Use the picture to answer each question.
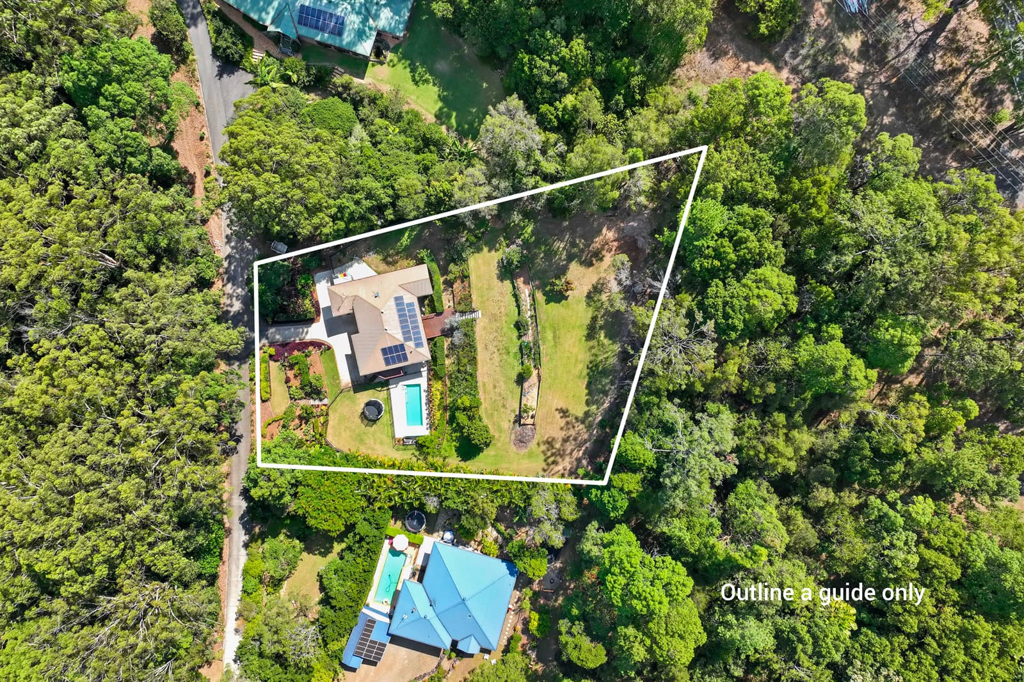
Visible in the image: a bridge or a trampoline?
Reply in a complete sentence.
I can see a trampoline in this picture.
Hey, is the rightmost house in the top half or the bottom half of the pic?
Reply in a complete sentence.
The rightmost house is in the bottom half of the image.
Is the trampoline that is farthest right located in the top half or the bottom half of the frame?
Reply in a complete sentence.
It is in the bottom half that the trampoline that is farthest right appears.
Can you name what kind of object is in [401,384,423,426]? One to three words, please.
swimming pool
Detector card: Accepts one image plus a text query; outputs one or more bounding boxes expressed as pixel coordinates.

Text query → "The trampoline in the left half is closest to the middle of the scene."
[361,401,383,421]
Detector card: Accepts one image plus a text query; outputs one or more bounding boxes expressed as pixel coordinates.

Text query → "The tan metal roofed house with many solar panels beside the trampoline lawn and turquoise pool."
[327,264,433,381]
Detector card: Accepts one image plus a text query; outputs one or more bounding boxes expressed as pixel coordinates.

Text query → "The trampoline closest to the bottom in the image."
[404,511,425,534]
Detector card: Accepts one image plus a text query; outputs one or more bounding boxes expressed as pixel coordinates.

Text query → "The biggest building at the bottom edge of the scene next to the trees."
[388,541,519,655]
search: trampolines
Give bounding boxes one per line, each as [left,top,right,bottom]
[404,511,425,534]
[361,401,383,421]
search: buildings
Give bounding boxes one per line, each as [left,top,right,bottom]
[388,541,519,655]
[225,0,414,59]
[327,264,433,381]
